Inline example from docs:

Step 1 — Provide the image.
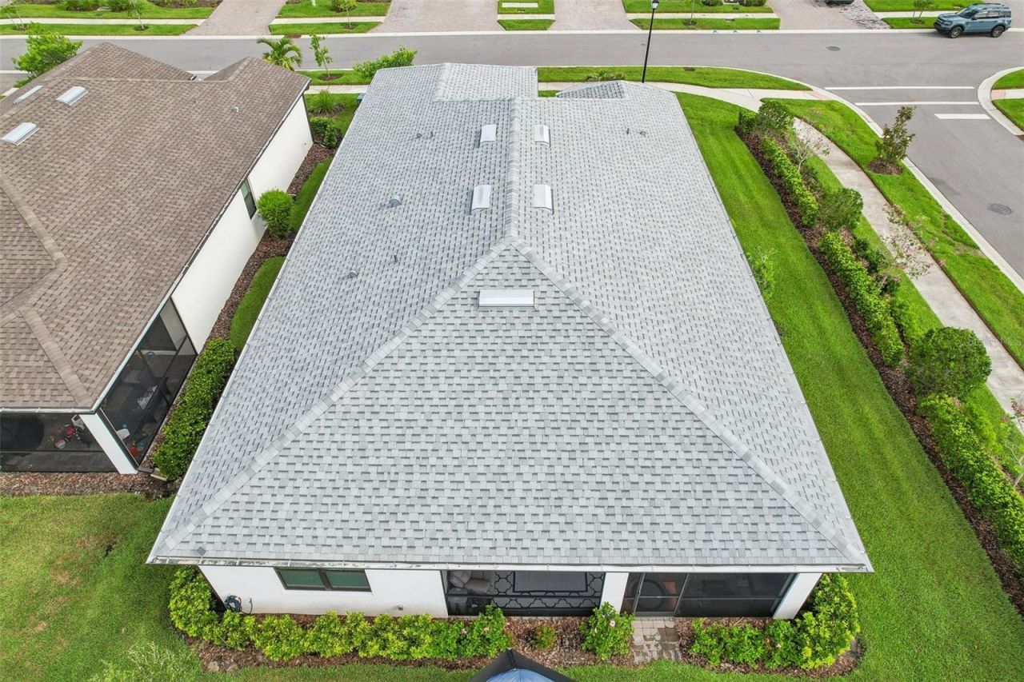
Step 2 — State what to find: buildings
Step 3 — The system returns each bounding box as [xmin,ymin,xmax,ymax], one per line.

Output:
[0,42,327,473]
[145,62,875,619]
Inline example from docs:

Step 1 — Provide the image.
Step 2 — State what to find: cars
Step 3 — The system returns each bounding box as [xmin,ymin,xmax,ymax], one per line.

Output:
[931,0,1022,38]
